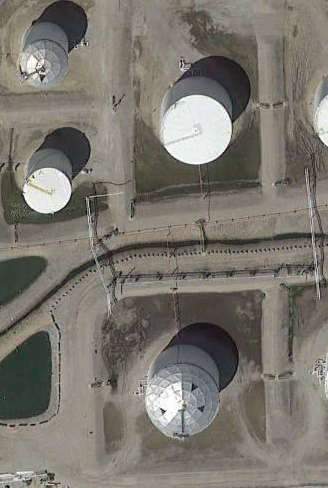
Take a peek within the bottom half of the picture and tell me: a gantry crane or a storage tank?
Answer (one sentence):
What appears within the bottom half of the picture is a storage tank.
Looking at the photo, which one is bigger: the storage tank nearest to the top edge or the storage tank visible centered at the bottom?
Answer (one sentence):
The storage tank visible centered at the bottom covers a greater area than the storage tank nearest to the top edge.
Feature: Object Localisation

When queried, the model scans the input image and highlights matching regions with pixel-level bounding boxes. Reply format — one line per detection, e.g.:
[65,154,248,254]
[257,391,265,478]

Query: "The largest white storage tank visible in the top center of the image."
[160,76,234,165]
